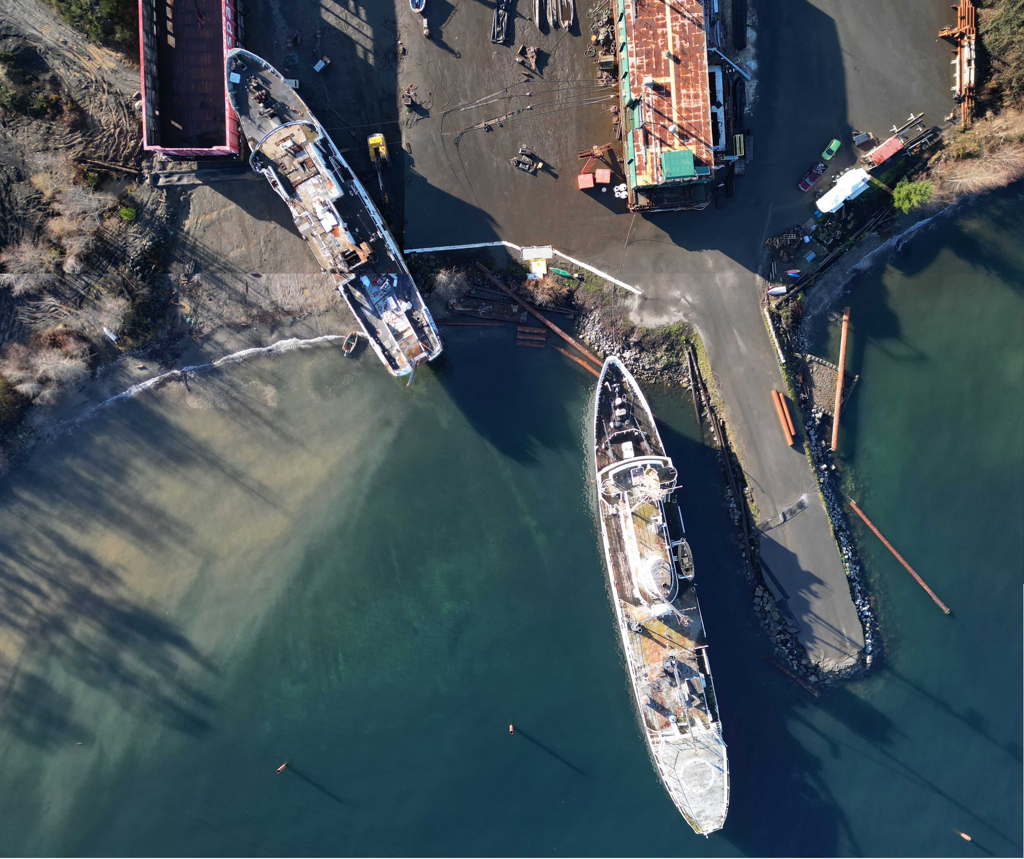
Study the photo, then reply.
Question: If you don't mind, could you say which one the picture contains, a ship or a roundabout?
ship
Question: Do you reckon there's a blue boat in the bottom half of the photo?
No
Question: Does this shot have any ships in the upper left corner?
Yes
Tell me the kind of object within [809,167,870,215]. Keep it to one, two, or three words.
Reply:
camper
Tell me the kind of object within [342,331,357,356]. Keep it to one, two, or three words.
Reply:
boat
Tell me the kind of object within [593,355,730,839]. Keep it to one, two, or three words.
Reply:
ship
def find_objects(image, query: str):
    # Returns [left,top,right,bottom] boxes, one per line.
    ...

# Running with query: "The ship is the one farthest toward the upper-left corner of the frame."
[137,0,256,173]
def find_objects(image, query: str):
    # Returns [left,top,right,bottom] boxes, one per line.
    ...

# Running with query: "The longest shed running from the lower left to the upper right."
[860,136,904,170]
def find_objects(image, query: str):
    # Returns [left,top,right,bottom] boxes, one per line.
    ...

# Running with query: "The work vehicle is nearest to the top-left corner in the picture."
[367,133,393,206]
